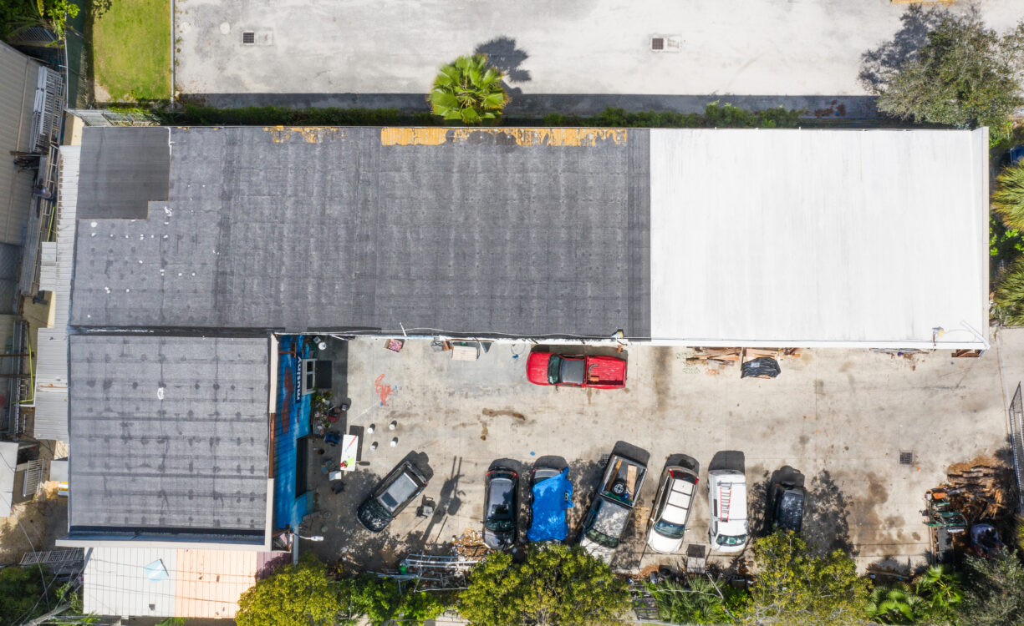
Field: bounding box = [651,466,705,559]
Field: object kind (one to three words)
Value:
car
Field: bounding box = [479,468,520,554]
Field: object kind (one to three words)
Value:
car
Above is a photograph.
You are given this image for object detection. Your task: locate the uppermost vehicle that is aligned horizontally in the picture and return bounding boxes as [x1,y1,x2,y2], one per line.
[527,352,629,393]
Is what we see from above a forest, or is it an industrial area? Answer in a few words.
industrial area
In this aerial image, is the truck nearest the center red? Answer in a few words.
Yes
